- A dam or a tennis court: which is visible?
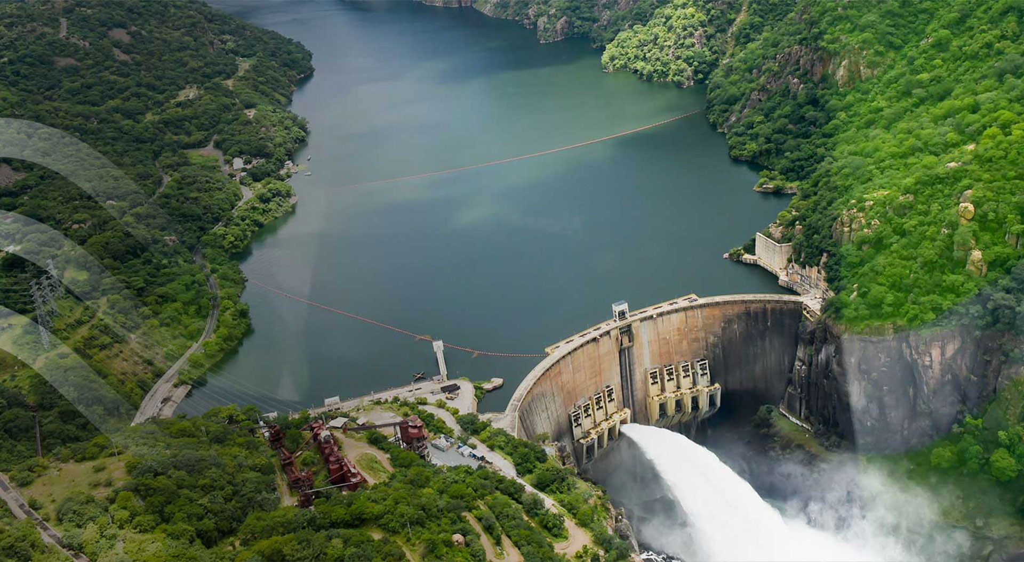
dam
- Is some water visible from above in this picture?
Yes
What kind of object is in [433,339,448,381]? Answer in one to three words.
pier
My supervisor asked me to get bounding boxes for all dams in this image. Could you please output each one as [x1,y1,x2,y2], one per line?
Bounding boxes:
[499,293,808,485]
